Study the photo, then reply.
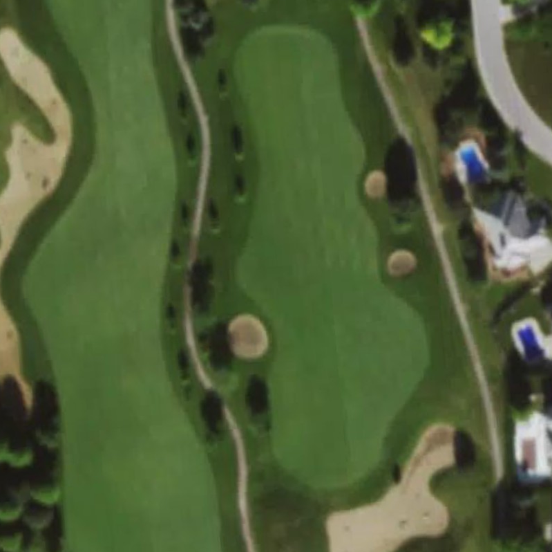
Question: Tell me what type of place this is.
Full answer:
What you see here is a golf course.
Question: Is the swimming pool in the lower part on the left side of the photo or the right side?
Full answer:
You can find the swimming pool in the lower part on the right side of the picture.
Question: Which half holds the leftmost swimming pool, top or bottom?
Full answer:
The top half of the photo is where the leftmost swimming pool is.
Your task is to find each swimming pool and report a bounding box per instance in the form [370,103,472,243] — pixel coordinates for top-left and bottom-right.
[509,315,547,364]
[454,138,490,187]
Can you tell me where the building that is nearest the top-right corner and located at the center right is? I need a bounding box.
[493,196,552,277]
